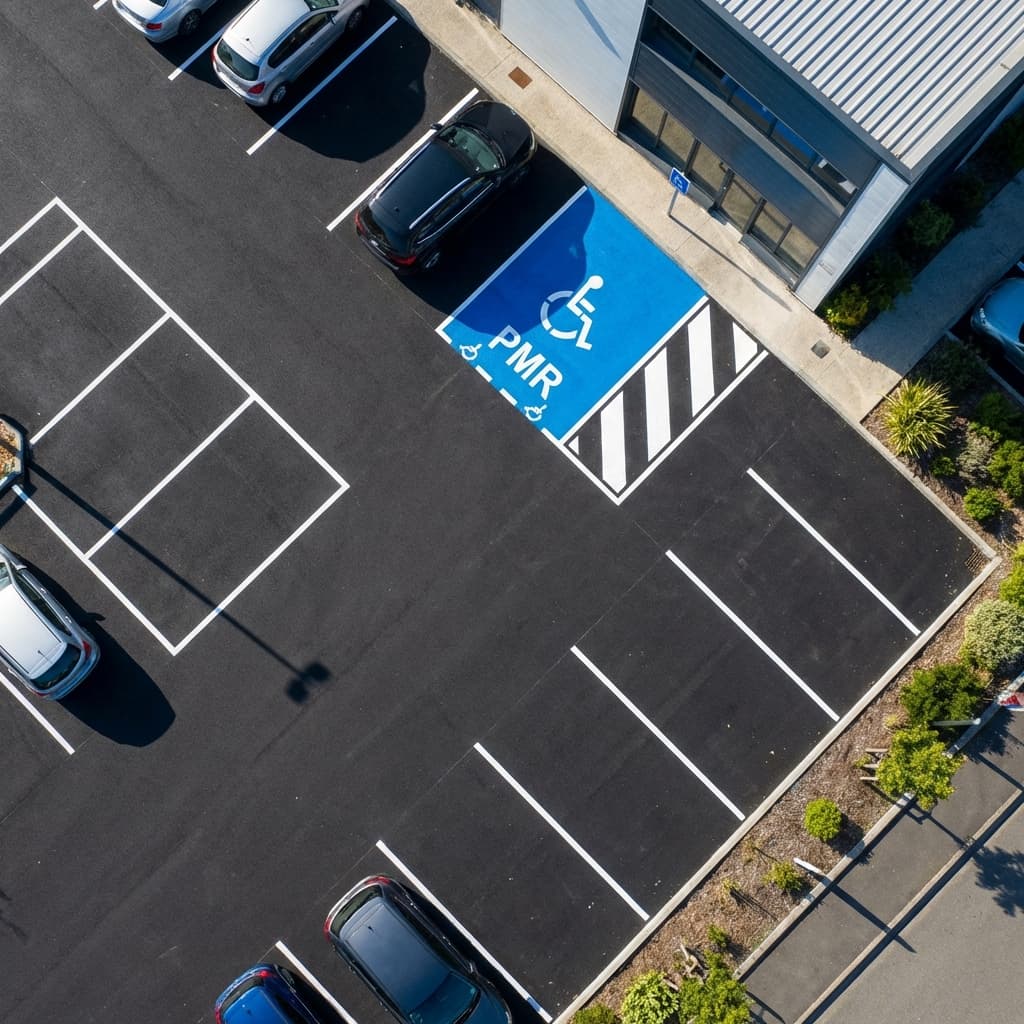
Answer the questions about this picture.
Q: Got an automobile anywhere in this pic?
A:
Yes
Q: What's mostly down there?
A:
paved ground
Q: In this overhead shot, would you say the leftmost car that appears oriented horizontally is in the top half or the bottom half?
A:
top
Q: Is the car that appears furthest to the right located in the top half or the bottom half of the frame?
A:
top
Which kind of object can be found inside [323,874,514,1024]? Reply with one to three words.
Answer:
car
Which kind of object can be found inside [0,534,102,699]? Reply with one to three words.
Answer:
car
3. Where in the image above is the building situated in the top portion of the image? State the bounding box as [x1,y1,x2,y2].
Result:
[473,0,1024,309]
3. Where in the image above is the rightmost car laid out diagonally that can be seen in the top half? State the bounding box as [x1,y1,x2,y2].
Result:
[351,98,539,275]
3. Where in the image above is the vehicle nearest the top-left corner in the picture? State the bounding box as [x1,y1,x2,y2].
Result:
[112,0,213,41]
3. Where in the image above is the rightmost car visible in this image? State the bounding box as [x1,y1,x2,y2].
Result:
[974,266,1024,371]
